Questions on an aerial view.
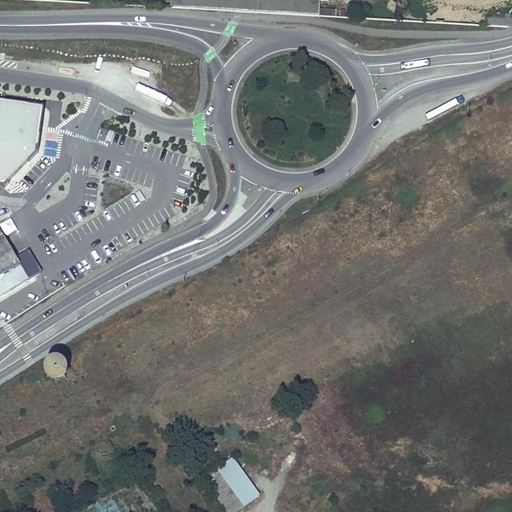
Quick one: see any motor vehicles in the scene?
Yes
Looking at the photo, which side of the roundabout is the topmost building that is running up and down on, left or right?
on the left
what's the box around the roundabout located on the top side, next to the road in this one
[213,29,376,192]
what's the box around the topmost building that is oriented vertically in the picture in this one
[0,98,45,192]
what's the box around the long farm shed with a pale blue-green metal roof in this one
[220,458,260,506]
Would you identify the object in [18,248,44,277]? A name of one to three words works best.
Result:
building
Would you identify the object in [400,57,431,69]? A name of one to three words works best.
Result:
vehicle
